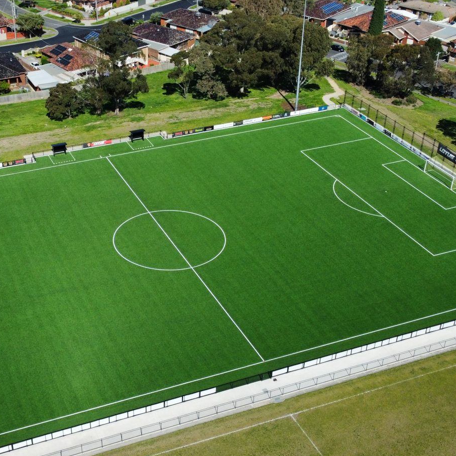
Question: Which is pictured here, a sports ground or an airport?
sports ground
